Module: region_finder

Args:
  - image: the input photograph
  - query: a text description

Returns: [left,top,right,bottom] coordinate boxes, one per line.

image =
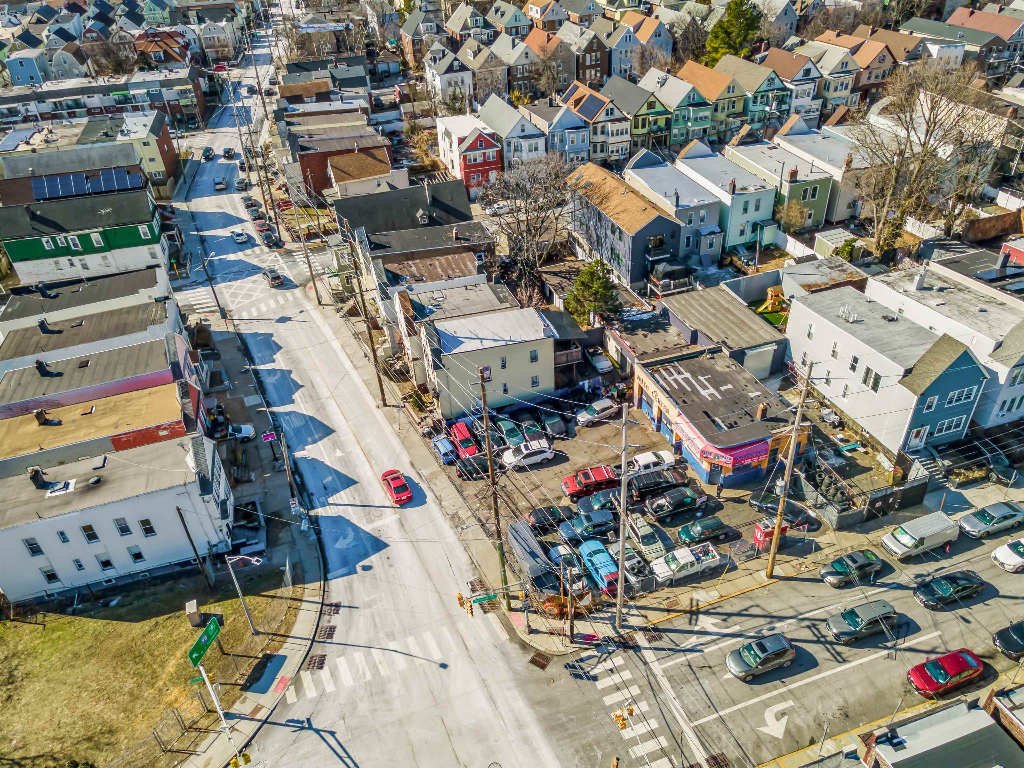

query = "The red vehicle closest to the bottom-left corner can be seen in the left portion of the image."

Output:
[379,468,418,510]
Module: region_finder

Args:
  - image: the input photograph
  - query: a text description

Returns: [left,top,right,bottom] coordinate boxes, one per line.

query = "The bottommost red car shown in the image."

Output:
[902,645,988,703]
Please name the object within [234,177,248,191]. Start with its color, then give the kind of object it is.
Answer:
gray car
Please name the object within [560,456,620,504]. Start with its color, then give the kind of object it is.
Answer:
red car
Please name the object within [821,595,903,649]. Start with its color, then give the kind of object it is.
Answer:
gray car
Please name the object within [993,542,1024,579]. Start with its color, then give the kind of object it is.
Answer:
white car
